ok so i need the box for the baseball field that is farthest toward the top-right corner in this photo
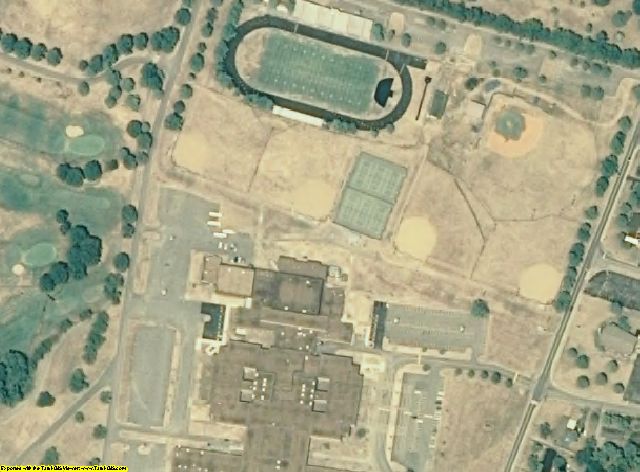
[478,97,603,209]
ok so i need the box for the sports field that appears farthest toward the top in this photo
[251,28,383,114]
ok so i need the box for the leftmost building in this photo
[171,254,364,472]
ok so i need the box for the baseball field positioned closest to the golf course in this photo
[172,131,211,169]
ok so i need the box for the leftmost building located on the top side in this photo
[430,89,449,119]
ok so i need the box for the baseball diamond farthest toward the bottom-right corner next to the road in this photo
[519,261,566,306]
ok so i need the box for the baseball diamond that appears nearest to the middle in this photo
[289,175,337,223]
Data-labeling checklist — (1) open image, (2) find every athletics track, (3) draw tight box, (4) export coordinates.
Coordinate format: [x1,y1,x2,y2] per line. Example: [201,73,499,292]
[225,17,428,132]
